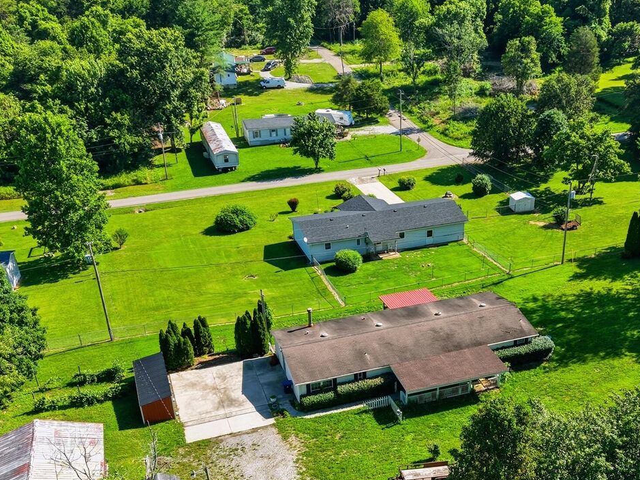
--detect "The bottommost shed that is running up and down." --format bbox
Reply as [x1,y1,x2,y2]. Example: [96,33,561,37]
[134,352,176,426]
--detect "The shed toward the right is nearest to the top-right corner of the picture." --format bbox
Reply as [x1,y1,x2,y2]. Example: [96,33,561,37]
[504,187,535,213]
